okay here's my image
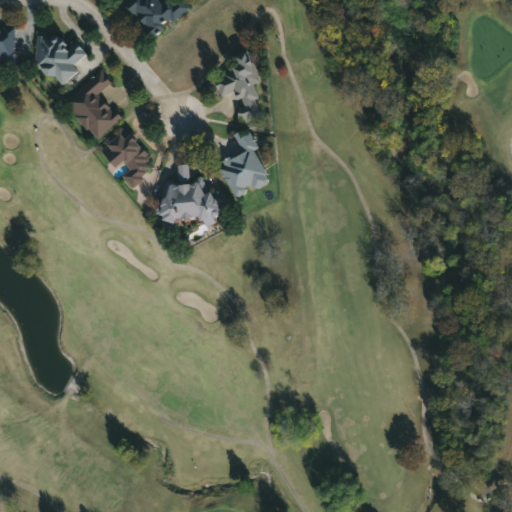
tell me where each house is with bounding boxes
[106,134,151,190]
[216,51,263,108]
[35,34,87,84]
[156,164,219,228]
[71,68,123,140]
[127,0,192,37]
[220,128,268,198]
[0,26,16,58]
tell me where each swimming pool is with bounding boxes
[114,166,128,179]
[189,224,209,242]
